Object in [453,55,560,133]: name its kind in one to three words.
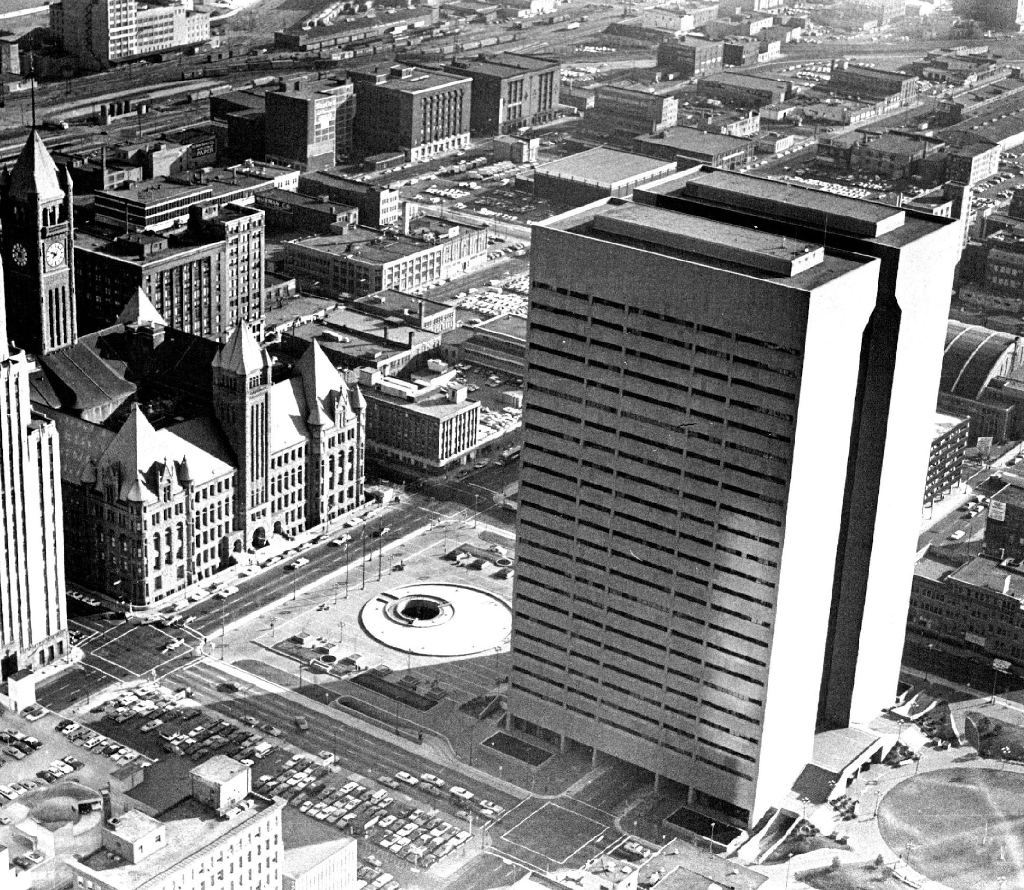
building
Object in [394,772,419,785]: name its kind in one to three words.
vehicle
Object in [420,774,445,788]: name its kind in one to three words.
car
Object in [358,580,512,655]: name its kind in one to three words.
fountain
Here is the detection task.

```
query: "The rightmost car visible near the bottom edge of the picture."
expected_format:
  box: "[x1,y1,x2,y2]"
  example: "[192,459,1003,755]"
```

[622,843,649,858]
